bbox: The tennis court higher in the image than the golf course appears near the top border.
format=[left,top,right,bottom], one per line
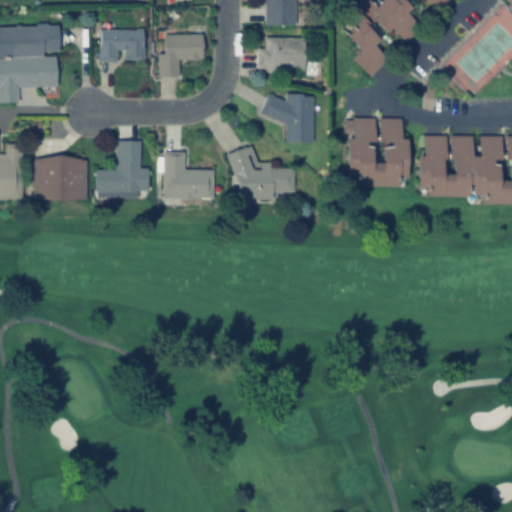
[445,10,512,96]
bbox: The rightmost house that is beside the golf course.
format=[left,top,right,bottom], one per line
[422,135,512,204]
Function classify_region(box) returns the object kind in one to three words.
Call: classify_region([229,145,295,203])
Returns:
house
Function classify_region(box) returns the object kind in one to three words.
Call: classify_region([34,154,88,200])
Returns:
house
